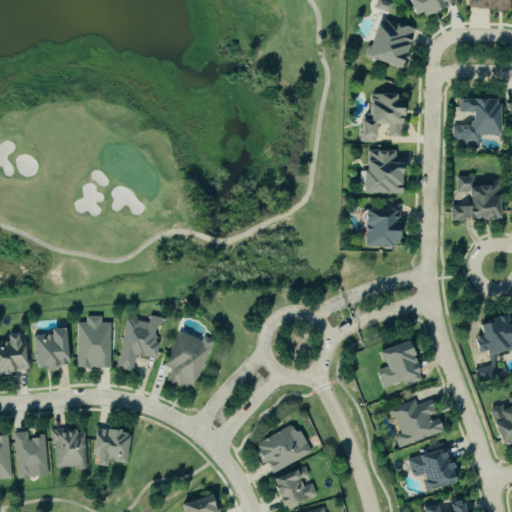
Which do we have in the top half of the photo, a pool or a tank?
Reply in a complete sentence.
What appears in the top half of the photo is a pool.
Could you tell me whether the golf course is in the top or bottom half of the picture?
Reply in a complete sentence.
Seen from above, the golf course lies in the top half of the view.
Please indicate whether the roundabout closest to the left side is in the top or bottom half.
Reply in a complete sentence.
You can find the roundabout closest to the left side in the bottom half.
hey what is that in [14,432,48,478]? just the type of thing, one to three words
house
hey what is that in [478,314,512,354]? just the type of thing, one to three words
house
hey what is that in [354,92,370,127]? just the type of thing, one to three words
swimming pool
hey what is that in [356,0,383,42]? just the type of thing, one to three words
swimming pool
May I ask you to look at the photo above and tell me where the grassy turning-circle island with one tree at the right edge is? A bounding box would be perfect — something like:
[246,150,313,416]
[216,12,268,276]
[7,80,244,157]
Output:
[470,238,512,294]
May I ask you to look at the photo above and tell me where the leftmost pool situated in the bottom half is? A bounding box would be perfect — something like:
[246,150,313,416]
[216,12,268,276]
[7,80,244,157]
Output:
[31,318,58,336]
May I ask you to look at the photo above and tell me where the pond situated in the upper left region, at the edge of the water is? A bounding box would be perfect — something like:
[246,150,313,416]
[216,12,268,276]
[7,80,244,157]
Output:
[0,0,248,89]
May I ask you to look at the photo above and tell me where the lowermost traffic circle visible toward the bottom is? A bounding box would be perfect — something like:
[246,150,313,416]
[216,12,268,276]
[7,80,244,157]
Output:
[258,303,327,384]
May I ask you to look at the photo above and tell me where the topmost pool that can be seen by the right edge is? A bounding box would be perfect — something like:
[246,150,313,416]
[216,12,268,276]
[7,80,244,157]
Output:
[480,134,502,152]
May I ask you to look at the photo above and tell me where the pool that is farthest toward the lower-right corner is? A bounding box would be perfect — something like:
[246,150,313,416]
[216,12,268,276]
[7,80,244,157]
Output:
[404,461,426,497]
